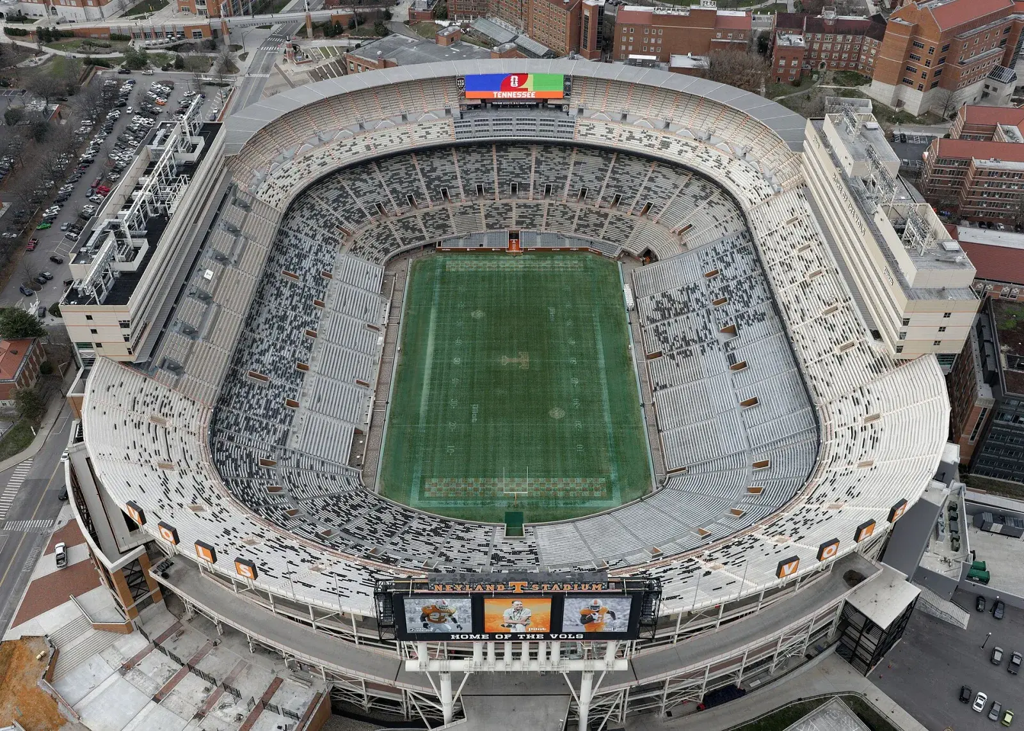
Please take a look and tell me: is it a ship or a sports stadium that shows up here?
sports stadium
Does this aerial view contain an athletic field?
Yes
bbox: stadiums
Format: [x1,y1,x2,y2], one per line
[81,57,949,658]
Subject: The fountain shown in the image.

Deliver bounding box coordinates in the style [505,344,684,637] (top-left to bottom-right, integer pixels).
[287,44,314,64]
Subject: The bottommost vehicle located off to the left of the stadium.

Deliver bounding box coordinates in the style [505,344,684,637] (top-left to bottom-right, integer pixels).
[54,543,67,566]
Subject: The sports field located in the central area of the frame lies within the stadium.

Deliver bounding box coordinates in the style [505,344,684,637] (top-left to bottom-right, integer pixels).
[375,243,655,524]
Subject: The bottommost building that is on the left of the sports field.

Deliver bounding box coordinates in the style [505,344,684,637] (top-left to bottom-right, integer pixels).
[64,441,176,631]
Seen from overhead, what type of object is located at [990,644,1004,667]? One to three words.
car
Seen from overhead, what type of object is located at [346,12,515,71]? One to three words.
building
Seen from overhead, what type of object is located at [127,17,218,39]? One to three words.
building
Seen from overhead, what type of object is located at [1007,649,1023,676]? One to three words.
vehicle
